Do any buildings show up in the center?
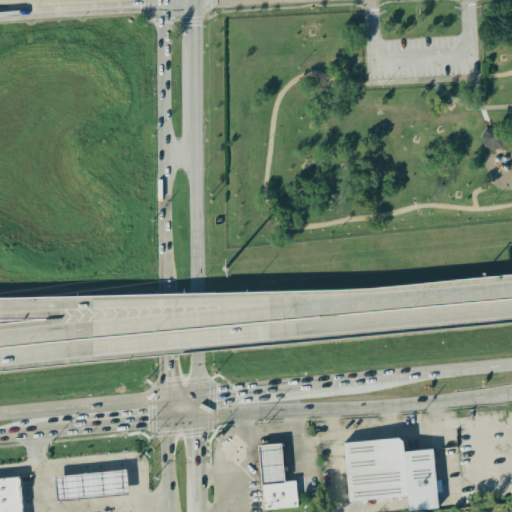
No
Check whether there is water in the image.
No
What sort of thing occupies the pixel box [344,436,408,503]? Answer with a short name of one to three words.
building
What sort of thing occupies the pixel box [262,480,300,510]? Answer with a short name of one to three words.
building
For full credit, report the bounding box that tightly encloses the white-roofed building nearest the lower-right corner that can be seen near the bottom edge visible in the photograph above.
[406,448,444,512]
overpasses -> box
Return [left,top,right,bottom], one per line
[0,274,512,372]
